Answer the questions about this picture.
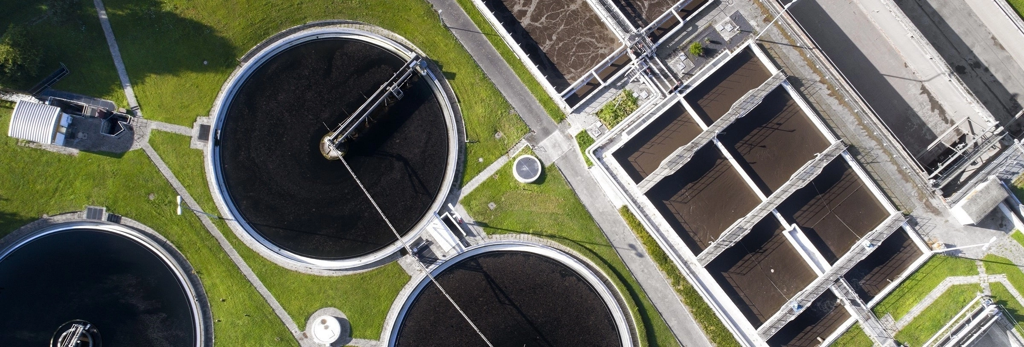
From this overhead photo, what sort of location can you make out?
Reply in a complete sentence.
It's an industrial area.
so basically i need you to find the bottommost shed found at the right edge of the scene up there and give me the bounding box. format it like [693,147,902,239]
[953,175,1009,226]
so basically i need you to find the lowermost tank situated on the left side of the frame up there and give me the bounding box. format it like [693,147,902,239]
[311,315,342,347]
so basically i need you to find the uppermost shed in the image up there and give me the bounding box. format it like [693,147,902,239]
[7,100,82,149]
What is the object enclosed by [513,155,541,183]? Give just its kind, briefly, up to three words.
storage tank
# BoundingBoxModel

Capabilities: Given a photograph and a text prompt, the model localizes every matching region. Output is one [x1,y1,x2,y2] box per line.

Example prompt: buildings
[7,100,82,149]
[953,175,1009,226]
